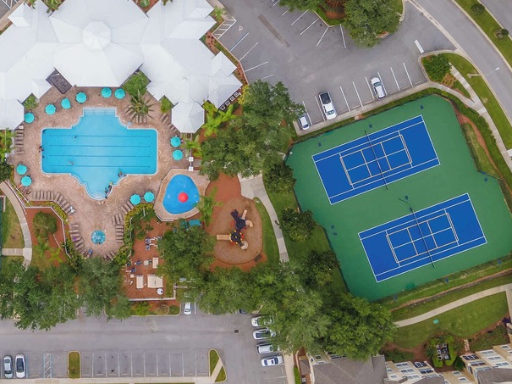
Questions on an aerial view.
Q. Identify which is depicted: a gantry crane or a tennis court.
tennis court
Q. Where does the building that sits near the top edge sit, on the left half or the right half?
left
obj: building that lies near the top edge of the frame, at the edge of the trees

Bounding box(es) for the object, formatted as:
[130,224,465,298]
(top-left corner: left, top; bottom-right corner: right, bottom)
[0,0,243,132]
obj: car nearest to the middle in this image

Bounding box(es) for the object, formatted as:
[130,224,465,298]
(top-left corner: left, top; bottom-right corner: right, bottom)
[297,114,311,131]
